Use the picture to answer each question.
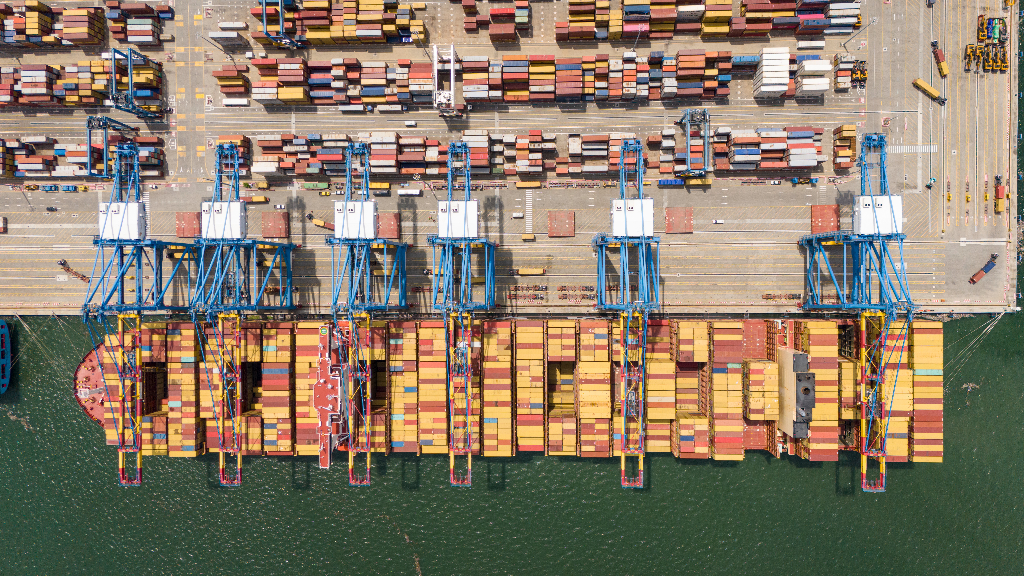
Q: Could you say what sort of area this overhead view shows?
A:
port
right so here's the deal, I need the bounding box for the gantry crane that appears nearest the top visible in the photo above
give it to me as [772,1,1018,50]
[260,0,304,51]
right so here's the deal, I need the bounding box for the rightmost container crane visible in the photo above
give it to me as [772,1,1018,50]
[798,132,917,496]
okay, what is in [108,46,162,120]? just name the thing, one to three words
container crane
